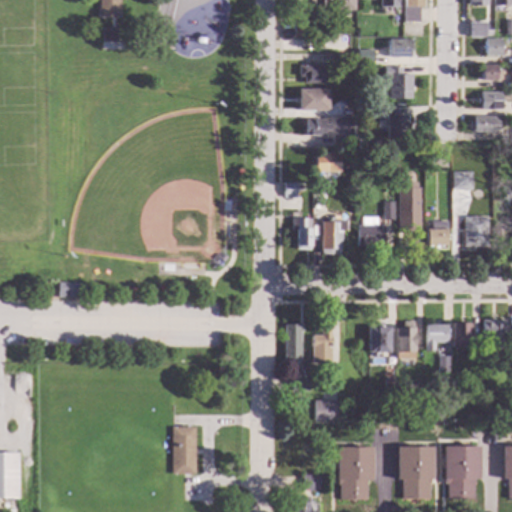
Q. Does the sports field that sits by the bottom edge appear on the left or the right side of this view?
left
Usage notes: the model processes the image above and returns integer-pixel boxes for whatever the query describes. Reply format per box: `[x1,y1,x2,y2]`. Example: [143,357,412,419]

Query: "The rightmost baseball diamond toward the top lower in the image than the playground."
[70,105,226,263]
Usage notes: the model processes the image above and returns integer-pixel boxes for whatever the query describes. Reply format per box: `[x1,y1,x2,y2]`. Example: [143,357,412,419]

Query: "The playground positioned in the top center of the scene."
[174,0,230,59]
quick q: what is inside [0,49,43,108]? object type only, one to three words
soccer field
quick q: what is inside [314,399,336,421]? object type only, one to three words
building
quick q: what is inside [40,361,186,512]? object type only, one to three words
sports field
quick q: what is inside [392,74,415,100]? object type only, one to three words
house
